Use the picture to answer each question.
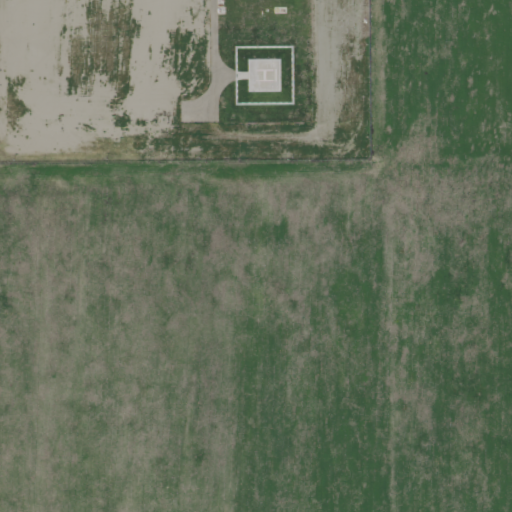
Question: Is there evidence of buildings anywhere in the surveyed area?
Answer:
No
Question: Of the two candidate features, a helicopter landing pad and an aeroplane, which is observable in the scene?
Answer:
helicopter landing pad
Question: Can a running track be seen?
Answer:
No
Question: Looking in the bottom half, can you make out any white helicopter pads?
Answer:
No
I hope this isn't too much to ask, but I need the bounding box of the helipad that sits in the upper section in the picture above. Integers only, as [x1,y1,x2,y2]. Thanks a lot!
[235,46,294,106]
